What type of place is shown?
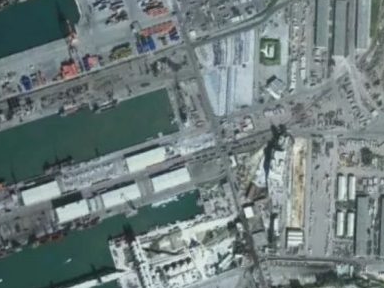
port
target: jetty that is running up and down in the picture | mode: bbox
[109,235,133,288]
